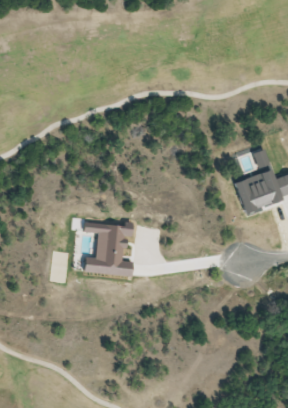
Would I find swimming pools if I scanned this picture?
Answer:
Yes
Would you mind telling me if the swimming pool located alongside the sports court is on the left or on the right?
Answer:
left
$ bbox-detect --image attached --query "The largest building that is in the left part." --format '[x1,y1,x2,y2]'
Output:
[84,222,134,277]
